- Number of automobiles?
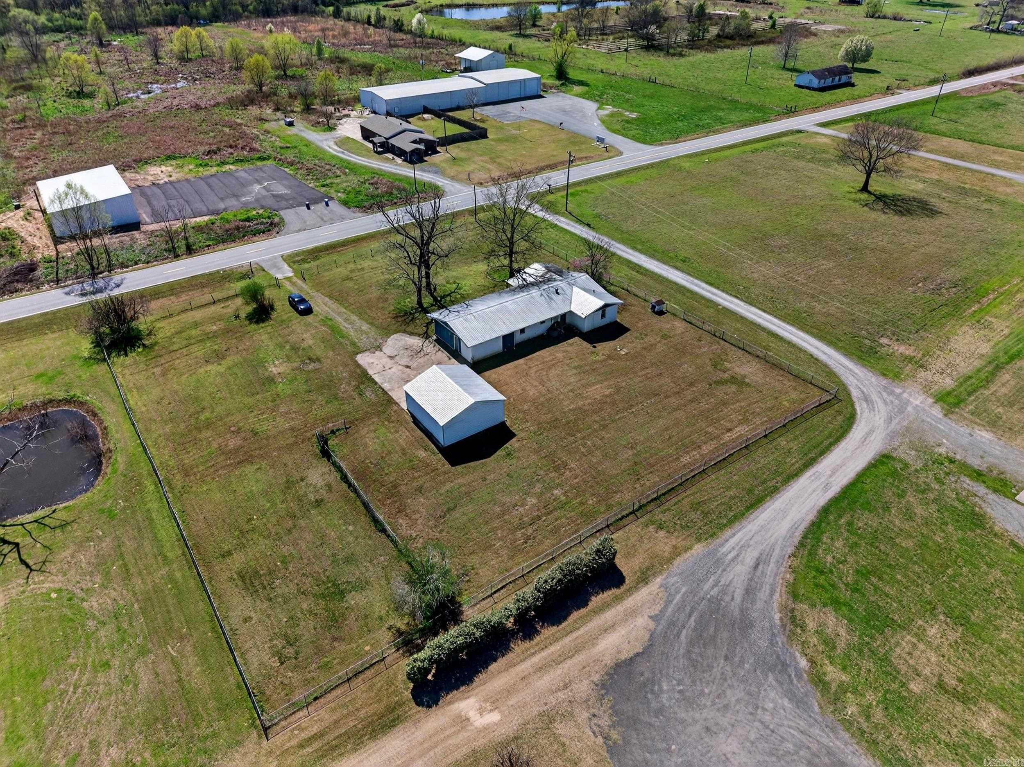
1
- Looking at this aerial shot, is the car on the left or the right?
left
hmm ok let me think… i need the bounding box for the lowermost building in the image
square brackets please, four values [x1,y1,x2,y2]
[401,365,509,447]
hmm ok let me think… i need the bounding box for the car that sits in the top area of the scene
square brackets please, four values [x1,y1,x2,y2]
[287,296,313,316]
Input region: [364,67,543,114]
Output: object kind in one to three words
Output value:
building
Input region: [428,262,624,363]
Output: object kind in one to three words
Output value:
house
